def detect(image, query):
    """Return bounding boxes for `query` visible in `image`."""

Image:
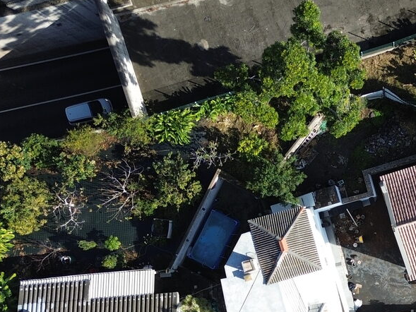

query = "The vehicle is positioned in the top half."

[65,99,113,126]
